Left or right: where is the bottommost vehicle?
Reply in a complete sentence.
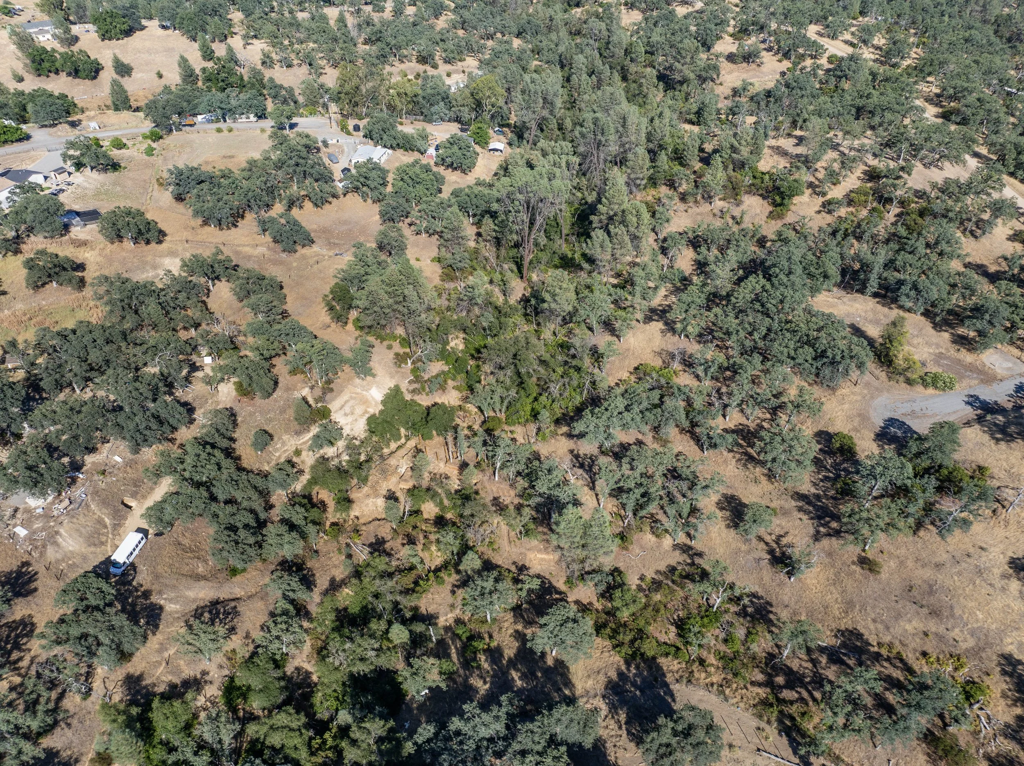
The bottommost vehicle appears in the left half of the scene.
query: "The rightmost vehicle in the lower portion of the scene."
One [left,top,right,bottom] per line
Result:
[106,527,147,575]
